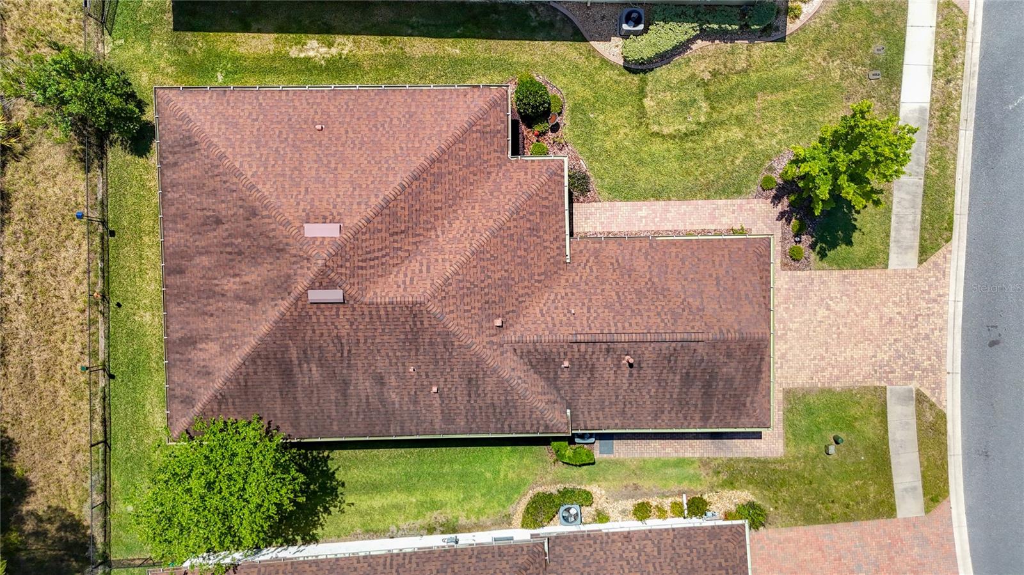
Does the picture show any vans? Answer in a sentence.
No, there appears to be no van in this shot.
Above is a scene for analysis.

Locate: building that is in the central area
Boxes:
[154,84,776,444]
